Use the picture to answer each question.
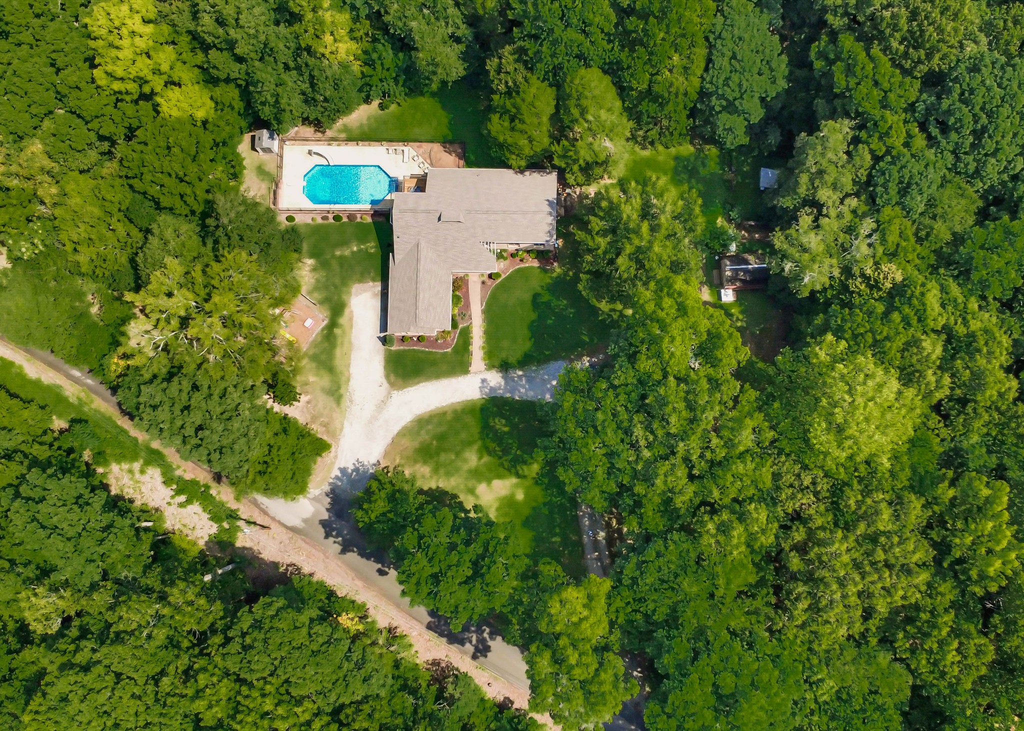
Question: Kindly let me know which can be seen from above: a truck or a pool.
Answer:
pool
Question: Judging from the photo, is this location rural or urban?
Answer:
rural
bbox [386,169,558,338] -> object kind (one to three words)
house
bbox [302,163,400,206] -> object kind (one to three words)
swimming pool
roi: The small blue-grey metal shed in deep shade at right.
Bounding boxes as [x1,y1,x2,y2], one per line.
[755,169,778,195]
